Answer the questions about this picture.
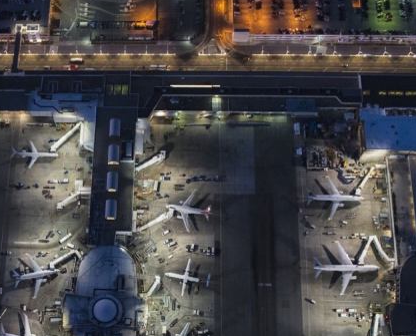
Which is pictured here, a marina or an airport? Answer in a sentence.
What you see here is an airport.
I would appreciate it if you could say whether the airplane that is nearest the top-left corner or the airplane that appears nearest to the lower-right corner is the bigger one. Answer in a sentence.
Of the two, the airplane that appears nearest to the lower-right corner is bigger, while the airplane that is nearest the top-left corner is smaller.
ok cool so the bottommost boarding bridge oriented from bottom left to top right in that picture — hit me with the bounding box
[145,273,162,298]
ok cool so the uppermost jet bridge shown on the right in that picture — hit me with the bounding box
[355,166,375,197]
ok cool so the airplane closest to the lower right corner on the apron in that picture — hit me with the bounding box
[316,236,378,295]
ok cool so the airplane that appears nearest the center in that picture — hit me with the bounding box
[167,188,210,231]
